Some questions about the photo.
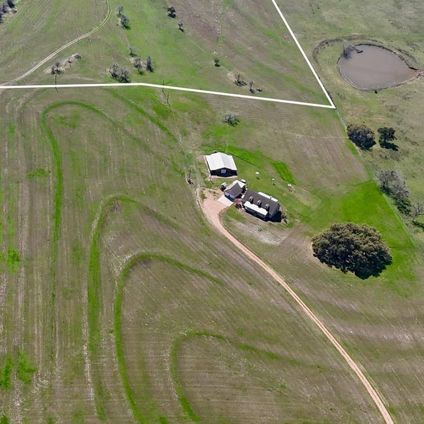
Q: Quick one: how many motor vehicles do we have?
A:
0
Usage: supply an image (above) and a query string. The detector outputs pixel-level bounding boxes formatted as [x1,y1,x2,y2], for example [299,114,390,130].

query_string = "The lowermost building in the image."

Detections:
[241,191,287,221]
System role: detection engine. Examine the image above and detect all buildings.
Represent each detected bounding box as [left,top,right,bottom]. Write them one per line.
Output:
[224,177,253,199]
[241,191,287,221]
[207,150,239,174]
